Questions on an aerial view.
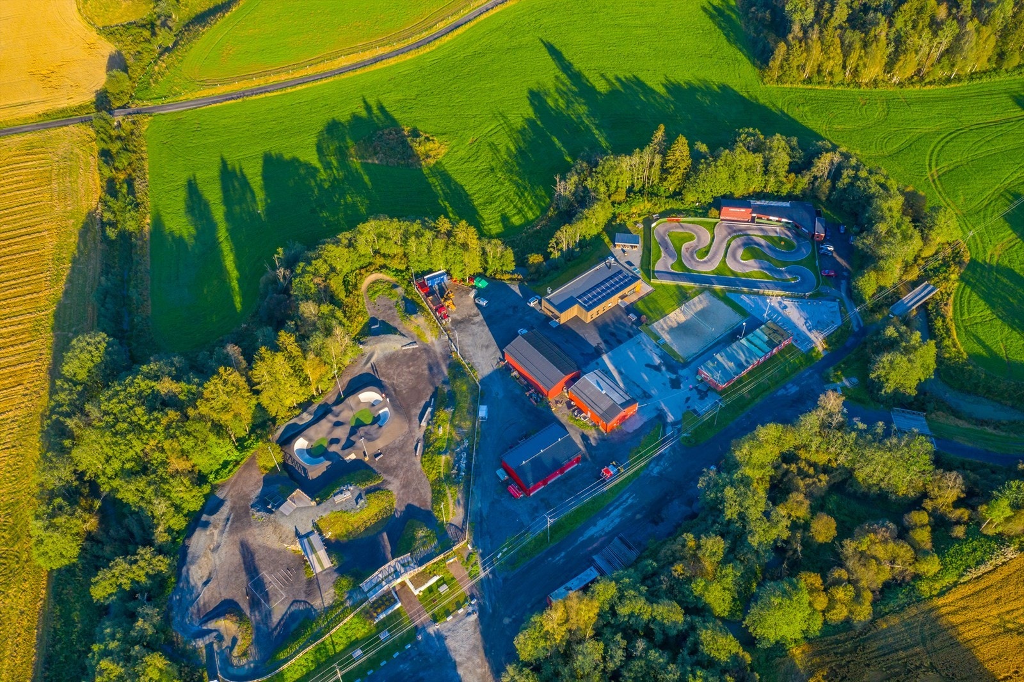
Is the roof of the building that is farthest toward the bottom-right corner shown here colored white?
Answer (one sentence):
No, from above the roof of the building that is farthest toward the bottom-right corner looks blue.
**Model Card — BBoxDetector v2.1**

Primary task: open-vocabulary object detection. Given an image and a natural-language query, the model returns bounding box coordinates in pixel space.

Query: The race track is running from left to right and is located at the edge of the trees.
[654,222,819,292]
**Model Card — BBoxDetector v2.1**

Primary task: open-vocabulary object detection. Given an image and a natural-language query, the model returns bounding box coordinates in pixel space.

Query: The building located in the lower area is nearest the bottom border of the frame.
[499,423,581,498]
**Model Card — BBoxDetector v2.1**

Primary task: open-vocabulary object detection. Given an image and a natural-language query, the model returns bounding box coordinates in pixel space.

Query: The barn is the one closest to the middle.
[503,330,582,399]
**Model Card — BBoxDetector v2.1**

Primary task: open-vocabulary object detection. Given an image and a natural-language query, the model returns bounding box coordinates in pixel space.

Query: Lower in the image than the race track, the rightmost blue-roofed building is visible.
[700,321,792,393]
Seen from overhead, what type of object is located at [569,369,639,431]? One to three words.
building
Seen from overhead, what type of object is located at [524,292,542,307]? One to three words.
vehicle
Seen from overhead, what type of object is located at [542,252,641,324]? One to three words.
building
